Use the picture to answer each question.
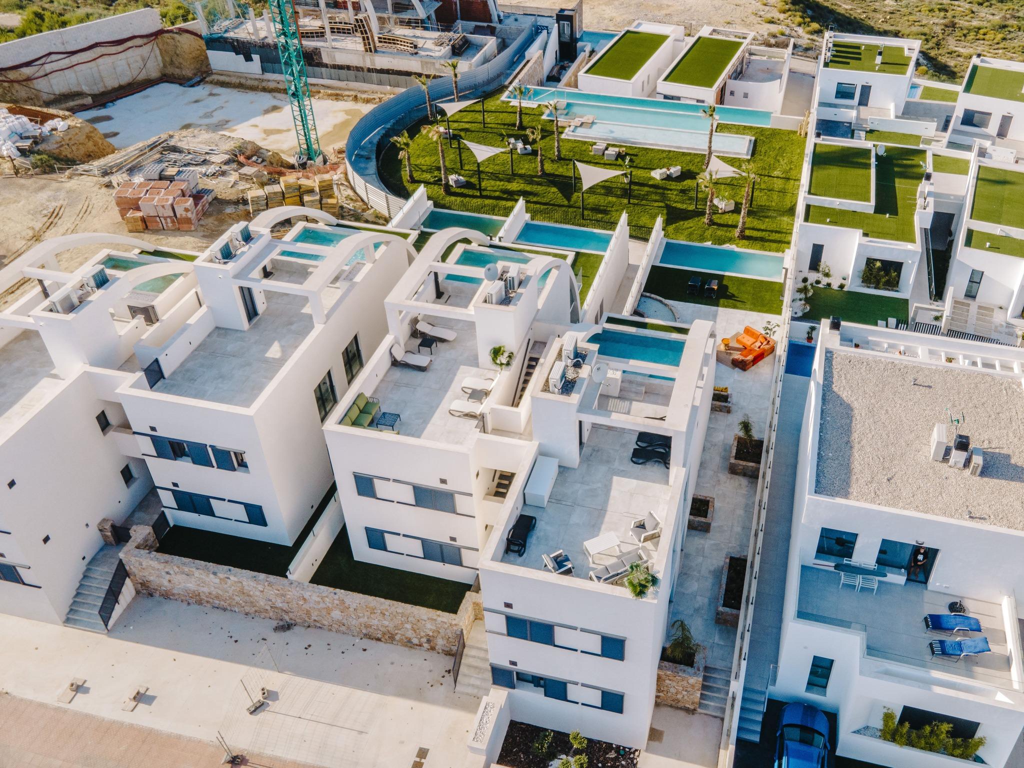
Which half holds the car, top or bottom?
bottom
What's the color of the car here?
blue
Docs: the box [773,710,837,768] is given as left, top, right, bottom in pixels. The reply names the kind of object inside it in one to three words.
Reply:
car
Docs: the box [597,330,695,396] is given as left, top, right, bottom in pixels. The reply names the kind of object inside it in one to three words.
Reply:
swimming pool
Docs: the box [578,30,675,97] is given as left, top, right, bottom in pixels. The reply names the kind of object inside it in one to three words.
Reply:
building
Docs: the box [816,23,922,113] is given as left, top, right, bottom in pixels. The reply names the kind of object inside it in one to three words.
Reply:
house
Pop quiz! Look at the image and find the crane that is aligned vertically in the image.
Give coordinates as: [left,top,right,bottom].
[265,0,325,157]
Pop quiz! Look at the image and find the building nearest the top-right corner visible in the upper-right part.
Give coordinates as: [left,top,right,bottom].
[951,49,1024,147]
